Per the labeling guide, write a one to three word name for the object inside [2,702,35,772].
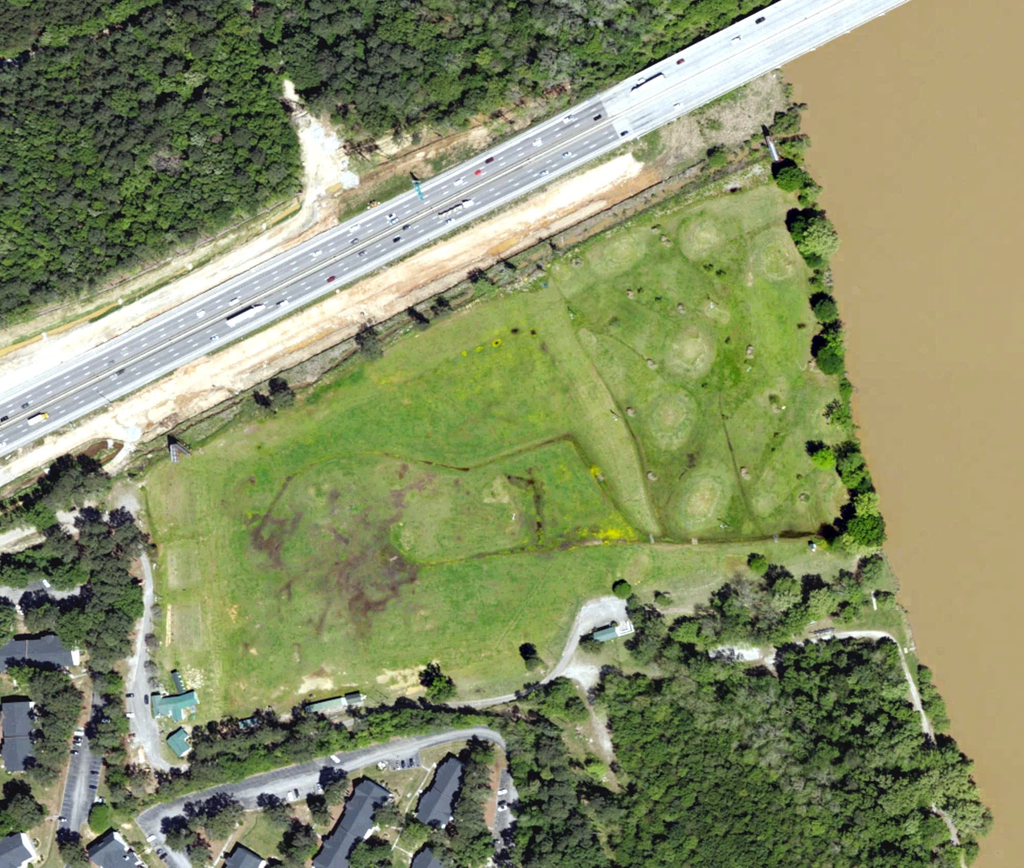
building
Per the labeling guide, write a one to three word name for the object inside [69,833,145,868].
building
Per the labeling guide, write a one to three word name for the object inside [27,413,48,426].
vehicle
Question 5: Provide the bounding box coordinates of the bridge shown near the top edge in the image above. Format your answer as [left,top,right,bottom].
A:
[595,0,910,146]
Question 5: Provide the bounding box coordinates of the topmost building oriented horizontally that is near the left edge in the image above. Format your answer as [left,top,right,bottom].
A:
[0,634,80,673]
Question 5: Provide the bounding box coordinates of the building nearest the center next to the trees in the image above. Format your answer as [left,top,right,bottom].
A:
[594,621,633,643]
